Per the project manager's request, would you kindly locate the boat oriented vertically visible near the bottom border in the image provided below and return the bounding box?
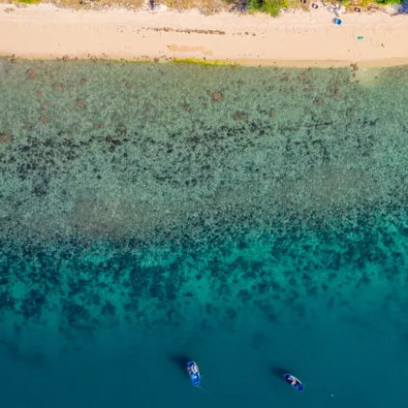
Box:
[186,360,200,389]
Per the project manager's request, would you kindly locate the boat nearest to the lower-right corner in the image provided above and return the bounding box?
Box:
[283,373,303,392]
